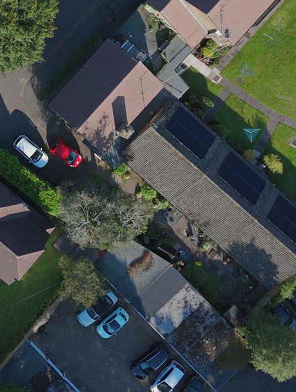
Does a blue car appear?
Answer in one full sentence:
Yes, a blue car appears in the view.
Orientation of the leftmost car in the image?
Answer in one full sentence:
The leftmost car is oriented on a diagonal.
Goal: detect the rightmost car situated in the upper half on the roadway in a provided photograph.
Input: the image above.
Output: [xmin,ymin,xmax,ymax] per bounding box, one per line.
[50,137,82,166]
